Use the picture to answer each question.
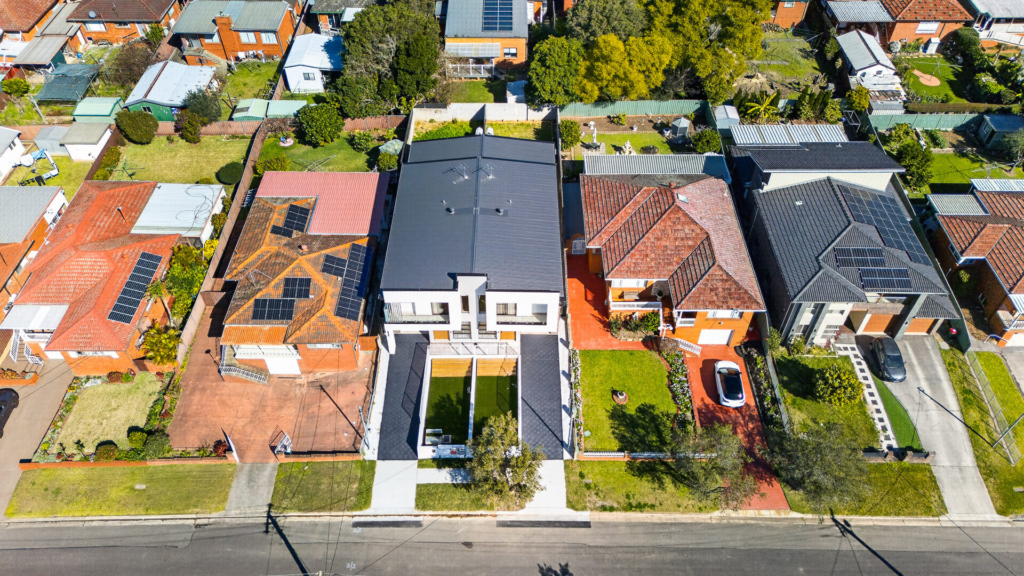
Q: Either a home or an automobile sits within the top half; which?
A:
home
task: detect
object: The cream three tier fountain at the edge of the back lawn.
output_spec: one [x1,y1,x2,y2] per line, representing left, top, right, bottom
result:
[617,138,637,155]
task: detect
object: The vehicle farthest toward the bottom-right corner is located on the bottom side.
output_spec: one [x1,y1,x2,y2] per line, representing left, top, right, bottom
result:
[873,335,910,385]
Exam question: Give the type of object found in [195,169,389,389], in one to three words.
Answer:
house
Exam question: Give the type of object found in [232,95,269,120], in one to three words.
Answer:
shed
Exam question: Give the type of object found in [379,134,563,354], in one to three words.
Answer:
house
